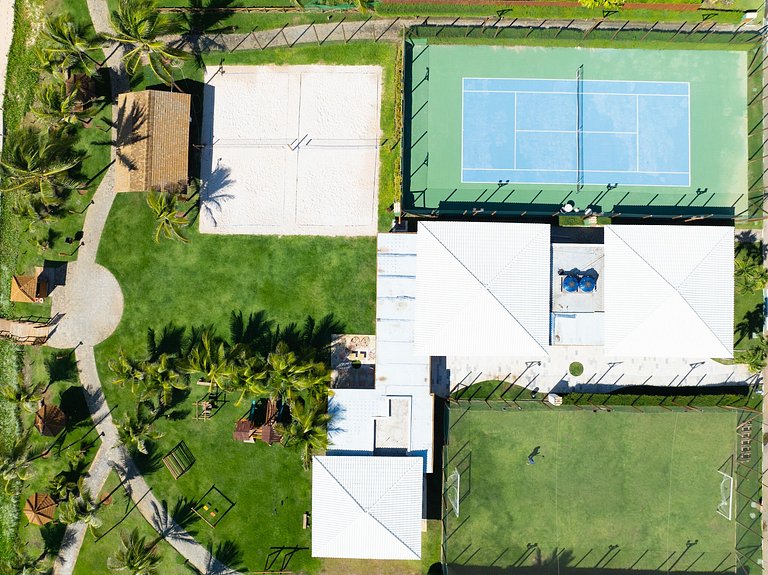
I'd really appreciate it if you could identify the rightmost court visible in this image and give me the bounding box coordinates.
[404,39,748,218]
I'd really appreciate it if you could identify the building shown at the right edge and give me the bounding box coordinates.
[597,225,735,358]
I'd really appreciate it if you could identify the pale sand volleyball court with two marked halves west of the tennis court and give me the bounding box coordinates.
[200,65,382,236]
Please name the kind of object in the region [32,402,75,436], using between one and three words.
gazebo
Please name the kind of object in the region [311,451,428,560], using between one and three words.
building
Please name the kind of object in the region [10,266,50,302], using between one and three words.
shed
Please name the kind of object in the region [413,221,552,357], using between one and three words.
building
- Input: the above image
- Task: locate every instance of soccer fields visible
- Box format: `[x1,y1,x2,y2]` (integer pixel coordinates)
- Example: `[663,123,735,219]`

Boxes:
[442,399,736,575]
